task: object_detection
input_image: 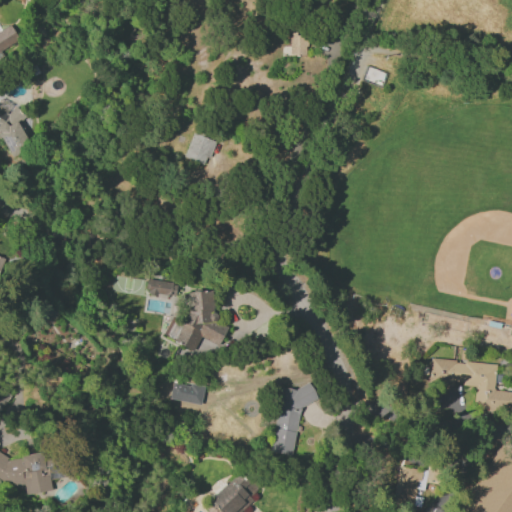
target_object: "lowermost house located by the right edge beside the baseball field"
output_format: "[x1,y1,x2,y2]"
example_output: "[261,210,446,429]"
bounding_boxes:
[426,360,512,412]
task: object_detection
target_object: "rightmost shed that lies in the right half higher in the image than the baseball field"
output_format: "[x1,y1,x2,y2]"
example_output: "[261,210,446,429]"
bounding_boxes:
[364,64,389,86]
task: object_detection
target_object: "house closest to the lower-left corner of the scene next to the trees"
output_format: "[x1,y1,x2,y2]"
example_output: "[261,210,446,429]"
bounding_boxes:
[0,450,52,496]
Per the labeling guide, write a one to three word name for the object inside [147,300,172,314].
swimming pool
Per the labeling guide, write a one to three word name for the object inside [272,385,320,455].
house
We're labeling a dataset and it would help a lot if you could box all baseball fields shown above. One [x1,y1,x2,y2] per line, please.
[324,97,512,330]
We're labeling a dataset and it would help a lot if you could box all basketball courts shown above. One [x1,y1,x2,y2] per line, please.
[114,276,146,296]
